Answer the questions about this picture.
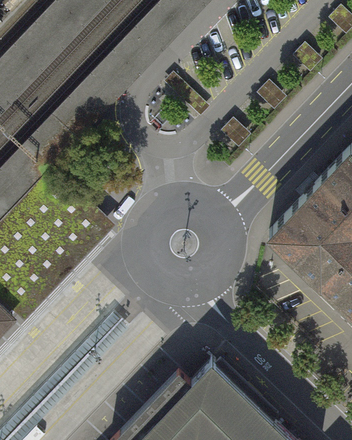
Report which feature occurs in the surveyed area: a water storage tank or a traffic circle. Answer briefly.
traffic circle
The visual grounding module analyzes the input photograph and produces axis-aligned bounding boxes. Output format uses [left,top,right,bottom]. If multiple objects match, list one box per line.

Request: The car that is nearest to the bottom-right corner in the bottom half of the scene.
[280,294,304,308]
